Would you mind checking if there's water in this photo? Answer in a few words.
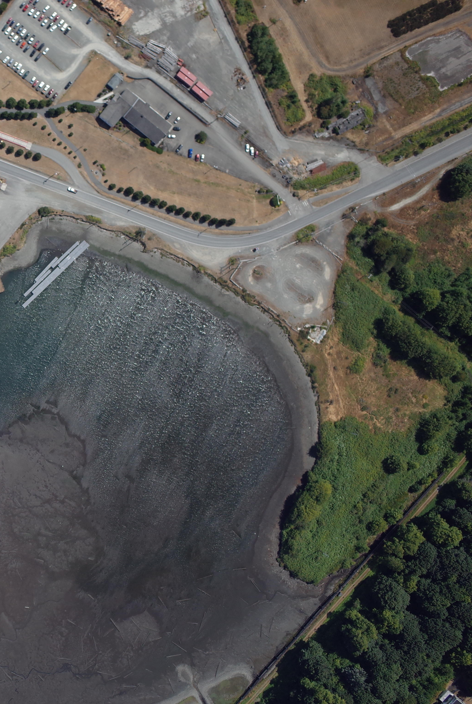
Yes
